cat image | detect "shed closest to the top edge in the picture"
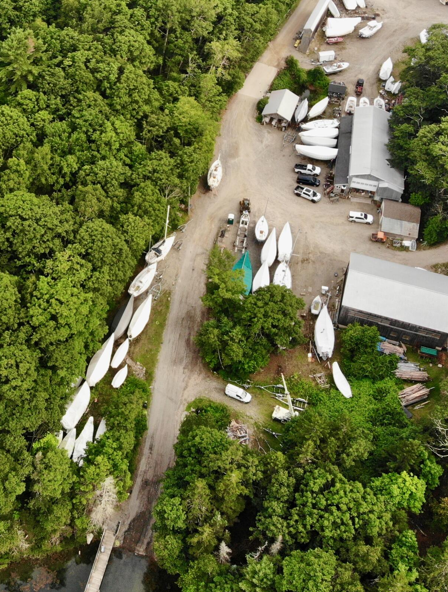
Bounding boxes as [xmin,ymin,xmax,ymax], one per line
[299,0,331,50]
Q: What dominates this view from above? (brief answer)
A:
trees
